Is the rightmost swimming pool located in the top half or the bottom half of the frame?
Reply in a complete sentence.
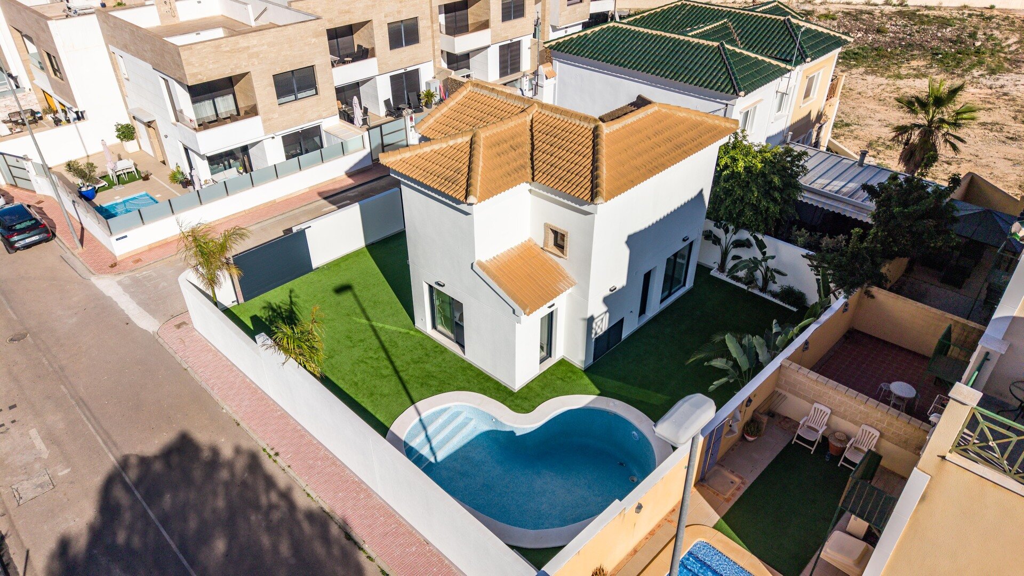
The rightmost swimming pool is in the bottom half of the image.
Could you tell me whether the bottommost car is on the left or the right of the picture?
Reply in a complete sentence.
The bottommost car appears in the left half of the scene.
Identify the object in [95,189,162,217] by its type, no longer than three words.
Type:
swimming pool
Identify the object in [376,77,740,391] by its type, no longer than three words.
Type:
house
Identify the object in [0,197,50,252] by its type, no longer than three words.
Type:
car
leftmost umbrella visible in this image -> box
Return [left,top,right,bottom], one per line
[98,140,127,191]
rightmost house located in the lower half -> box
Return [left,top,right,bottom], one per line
[859,197,1024,576]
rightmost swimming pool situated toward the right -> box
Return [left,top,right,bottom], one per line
[673,524,776,576]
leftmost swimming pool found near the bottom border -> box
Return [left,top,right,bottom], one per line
[387,392,670,549]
